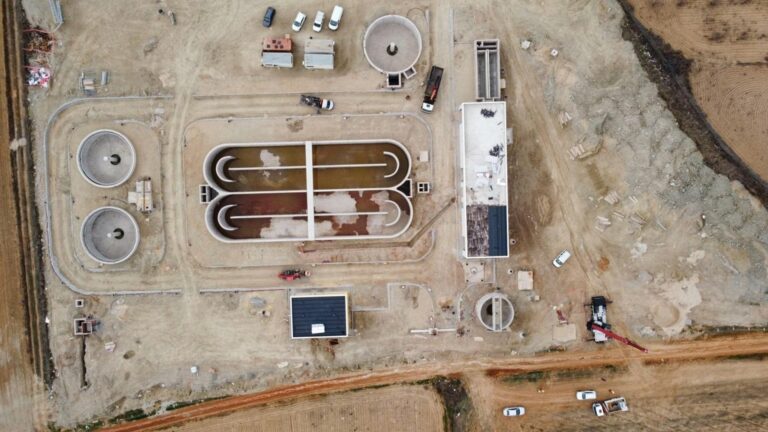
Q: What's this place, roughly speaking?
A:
industrial area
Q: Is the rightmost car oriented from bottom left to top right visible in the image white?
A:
Yes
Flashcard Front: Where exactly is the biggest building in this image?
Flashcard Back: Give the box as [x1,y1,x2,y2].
[458,101,510,258]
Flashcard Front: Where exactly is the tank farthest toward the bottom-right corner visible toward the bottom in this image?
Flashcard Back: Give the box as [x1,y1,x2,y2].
[476,292,514,332]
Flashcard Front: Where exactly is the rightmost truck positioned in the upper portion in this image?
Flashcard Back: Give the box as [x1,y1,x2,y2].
[421,65,444,115]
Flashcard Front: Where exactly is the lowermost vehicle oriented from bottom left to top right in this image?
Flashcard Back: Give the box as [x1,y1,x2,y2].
[551,248,572,268]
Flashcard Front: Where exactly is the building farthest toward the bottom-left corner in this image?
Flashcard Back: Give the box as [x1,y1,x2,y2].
[290,292,350,338]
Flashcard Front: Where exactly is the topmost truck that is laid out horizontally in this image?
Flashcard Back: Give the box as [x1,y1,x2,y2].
[300,94,337,115]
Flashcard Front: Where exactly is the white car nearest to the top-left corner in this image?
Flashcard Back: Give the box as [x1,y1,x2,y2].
[292,11,307,32]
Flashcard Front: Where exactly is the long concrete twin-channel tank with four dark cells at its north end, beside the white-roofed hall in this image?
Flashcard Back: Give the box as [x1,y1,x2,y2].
[474,39,505,102]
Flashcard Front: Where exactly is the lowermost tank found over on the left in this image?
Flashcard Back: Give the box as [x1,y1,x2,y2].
[81,206,142,265]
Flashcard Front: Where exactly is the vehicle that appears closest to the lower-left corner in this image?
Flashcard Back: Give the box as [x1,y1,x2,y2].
[276,268,304,280]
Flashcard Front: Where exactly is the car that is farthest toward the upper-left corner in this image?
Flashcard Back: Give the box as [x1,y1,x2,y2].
[262,6,277,28]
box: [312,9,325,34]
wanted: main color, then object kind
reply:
white vehicle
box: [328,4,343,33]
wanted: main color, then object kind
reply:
white vehicle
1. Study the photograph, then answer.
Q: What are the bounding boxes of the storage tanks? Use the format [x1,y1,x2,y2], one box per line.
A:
[476,292,514,332]
[474,39,505,102]
[77,129,139,188]
[81,206,142,265]
[364,14,422,74]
